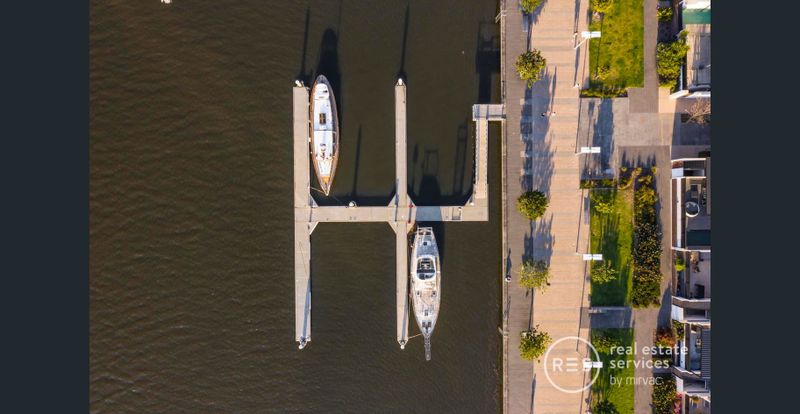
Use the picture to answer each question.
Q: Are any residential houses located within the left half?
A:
No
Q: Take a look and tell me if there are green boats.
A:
No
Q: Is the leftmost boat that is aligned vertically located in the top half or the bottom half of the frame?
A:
top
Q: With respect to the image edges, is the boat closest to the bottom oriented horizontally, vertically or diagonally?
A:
vertically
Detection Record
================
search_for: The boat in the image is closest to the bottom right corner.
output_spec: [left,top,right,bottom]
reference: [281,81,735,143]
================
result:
[405,224,441,362]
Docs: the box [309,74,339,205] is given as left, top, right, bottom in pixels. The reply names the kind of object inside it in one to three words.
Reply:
boat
